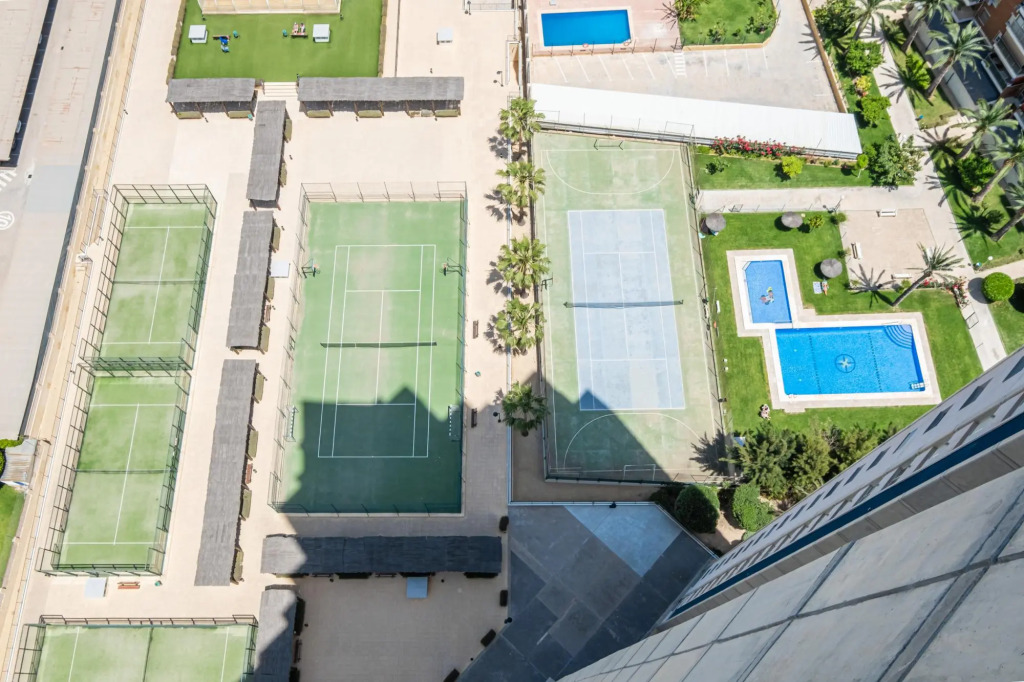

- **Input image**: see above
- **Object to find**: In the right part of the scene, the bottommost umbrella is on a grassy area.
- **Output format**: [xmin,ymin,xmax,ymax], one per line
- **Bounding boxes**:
[821,257,845,278]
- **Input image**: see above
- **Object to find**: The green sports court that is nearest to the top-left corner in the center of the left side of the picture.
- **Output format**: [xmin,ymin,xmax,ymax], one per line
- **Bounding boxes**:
[93,201,217,372]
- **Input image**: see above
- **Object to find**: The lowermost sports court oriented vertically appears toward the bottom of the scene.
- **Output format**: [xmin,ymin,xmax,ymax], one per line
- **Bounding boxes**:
[56,376,193,577]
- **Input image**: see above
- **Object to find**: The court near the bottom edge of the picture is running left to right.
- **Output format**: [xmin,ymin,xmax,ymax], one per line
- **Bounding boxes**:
[32,625,260,682]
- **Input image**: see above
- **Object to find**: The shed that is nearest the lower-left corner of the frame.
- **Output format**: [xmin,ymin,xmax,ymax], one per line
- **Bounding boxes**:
[2,441,47,484]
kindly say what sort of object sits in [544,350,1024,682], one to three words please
building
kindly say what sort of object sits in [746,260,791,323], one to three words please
swimming pool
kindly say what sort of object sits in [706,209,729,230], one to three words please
umbrella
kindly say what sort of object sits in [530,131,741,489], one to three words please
tennis court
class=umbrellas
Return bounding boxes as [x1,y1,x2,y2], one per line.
[821,257,845,278]
[782,207,804,227]
[706,209,729,230]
